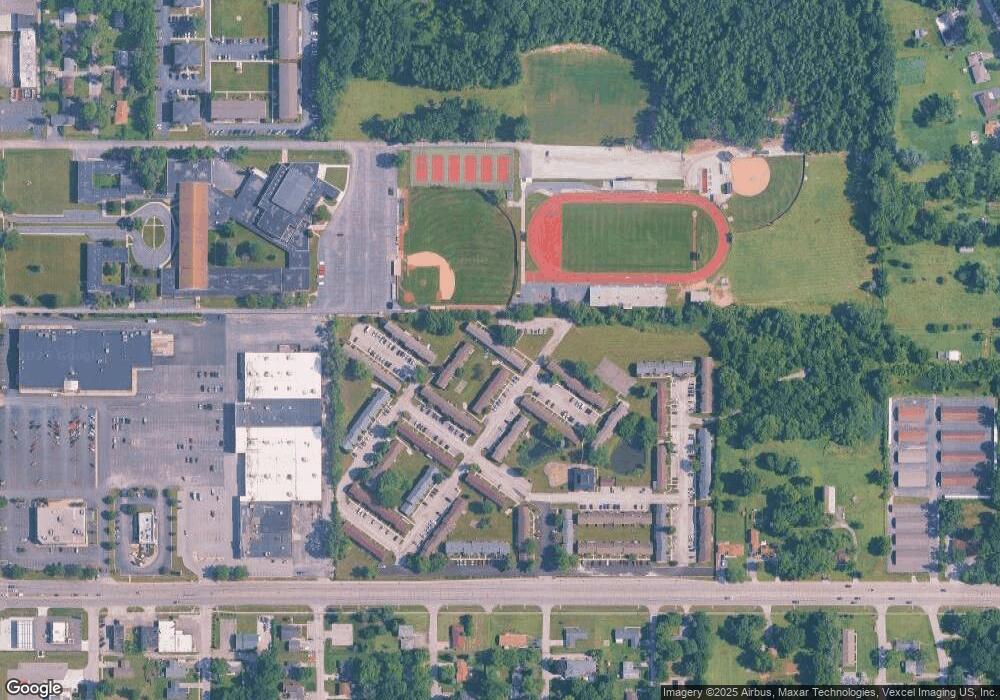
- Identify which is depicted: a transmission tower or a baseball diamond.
baseball diamond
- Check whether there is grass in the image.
Yes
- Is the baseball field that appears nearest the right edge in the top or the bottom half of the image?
top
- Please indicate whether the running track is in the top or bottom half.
top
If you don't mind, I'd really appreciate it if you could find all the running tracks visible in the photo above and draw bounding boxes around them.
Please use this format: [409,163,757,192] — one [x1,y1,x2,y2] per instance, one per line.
[525,192,729,284]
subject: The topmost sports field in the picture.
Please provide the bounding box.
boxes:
[525,49,650,144]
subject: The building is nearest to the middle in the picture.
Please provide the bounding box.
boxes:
[466,323,527,370]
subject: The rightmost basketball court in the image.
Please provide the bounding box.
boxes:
[595,357,636,394]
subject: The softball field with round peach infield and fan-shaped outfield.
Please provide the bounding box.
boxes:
[727,153,804,232]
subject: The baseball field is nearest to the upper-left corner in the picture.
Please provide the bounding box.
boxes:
[402,189,517,306]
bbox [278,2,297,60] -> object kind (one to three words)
building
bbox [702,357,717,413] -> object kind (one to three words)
building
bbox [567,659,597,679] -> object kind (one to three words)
house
